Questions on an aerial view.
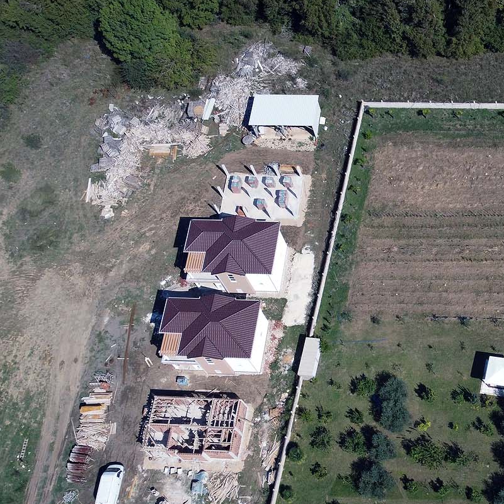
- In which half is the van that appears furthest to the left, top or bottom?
bottom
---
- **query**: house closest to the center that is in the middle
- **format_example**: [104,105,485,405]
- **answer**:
[182,215,287,294]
